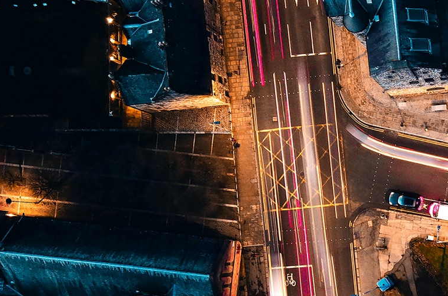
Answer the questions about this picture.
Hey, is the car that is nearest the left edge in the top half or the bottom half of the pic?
top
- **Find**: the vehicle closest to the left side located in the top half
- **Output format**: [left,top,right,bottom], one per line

[245,47,265,83]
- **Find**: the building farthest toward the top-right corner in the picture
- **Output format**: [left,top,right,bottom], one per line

[323,0,448,95]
